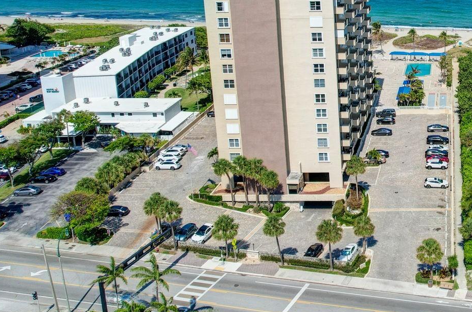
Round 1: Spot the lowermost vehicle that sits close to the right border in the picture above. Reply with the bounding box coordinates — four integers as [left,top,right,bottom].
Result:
[424,176,450,189]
